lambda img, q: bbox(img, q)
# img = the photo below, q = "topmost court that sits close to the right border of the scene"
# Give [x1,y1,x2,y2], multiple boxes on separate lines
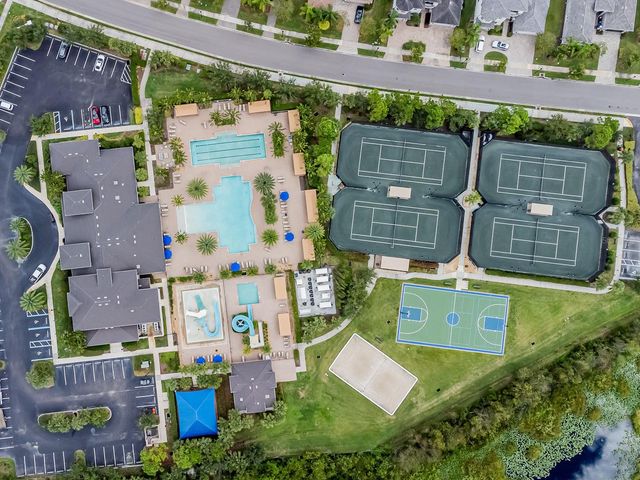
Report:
[479,140,610,215]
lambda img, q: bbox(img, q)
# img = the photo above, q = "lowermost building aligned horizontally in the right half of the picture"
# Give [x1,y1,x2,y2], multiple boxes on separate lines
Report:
[381,256,410,272]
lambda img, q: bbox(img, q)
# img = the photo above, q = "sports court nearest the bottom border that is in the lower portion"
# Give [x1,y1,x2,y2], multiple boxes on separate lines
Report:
[329,334,418,415]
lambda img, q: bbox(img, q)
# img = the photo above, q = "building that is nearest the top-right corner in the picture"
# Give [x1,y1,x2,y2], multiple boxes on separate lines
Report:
[561,0,636,46]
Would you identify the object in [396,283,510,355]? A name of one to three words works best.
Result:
basketball court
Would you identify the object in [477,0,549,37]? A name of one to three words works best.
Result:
house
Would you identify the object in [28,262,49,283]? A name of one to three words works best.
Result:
car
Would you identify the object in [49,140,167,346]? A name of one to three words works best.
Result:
building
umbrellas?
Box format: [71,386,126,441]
[231,262,240,272]
[279,191,289,201]
[213,354,222,363]
[163,235,172,244]
[196,355,206,364]
[164,249,173,259]
[285,232,294,242]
